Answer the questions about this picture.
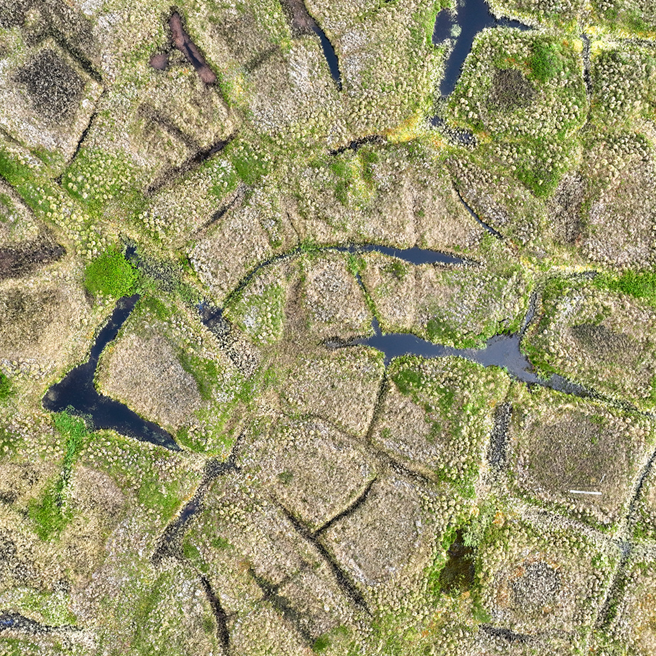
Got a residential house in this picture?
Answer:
No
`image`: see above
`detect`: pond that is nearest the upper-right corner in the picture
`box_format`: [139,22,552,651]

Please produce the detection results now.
[432,0,532,97]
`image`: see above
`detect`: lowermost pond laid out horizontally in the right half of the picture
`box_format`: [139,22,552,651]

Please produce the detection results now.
[339,317,601,398]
